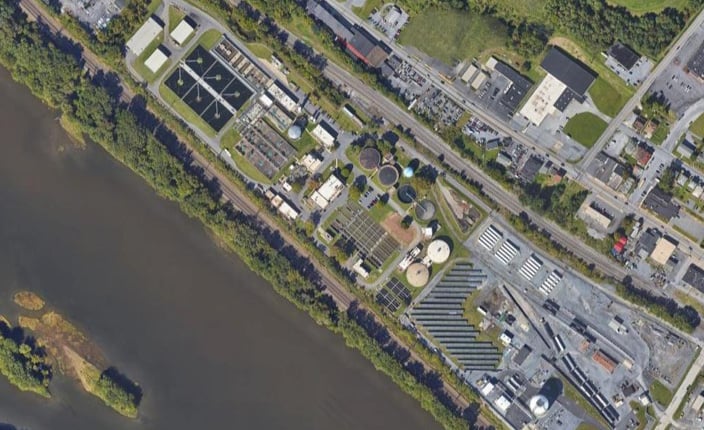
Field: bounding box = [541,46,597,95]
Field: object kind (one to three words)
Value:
building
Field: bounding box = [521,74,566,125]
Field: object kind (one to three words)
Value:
building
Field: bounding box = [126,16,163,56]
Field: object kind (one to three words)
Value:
shed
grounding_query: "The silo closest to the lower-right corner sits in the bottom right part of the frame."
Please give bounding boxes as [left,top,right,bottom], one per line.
[529,394,549,414]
